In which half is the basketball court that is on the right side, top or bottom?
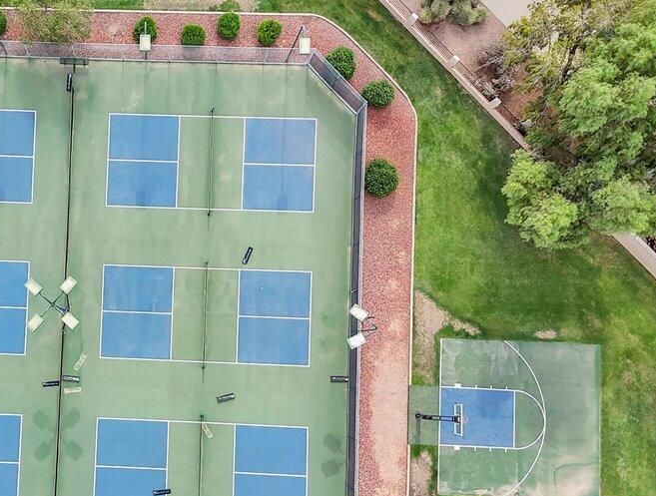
bottom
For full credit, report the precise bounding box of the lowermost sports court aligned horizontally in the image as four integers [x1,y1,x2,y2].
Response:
[94,418,308,496]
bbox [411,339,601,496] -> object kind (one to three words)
basketball court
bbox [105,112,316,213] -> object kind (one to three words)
sports court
